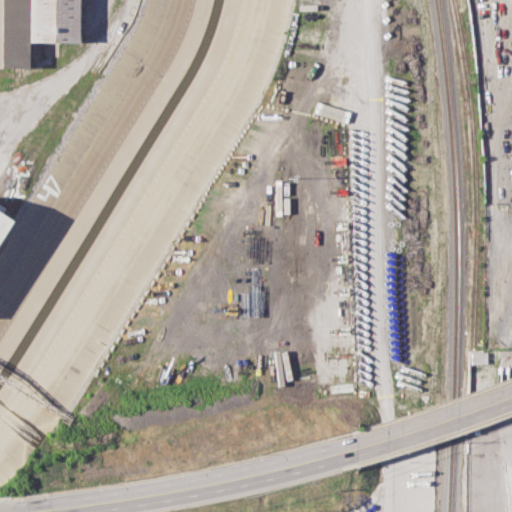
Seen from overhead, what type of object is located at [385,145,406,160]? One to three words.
vehicle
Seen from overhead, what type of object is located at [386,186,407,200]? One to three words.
vehicle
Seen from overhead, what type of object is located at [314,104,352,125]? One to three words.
building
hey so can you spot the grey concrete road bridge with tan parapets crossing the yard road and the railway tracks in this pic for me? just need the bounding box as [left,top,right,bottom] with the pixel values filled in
[354,377,512,466]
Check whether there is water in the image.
Yes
